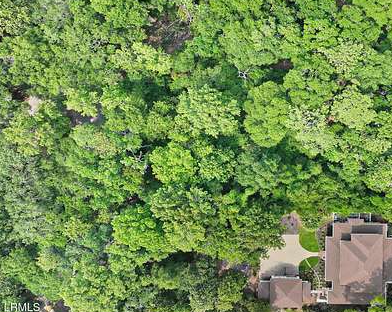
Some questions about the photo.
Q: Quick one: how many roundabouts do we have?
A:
0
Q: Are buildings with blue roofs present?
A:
No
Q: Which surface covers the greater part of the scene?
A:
trees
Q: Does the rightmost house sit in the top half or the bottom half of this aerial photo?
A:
bottom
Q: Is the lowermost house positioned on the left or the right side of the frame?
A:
right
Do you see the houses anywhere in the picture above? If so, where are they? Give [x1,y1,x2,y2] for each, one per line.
[322,216,392,305]
[258,274,311,309]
